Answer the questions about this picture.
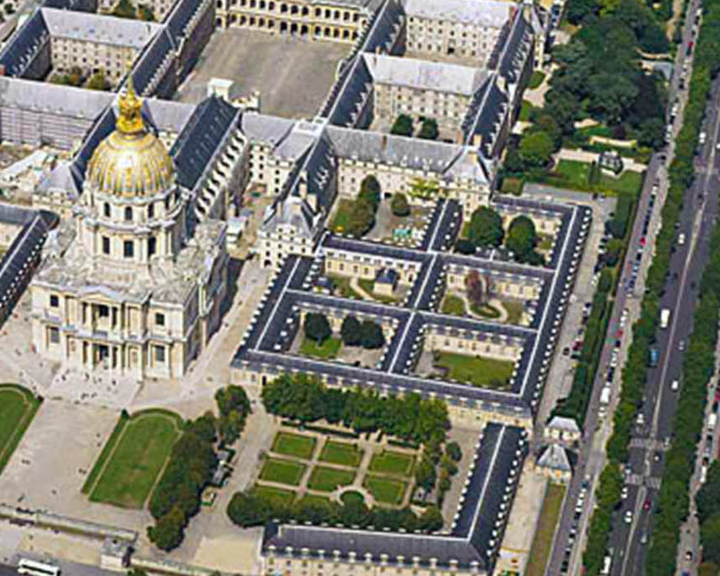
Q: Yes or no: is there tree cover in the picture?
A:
Yes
